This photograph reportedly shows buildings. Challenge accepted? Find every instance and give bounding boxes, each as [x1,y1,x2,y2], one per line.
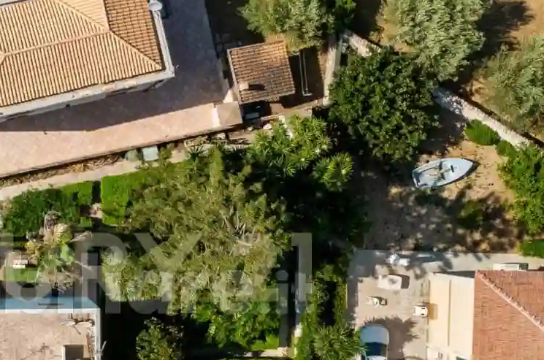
[0,0,177,129]
[220,38,295,104]
[0,297,102,360]
[424,269,544,360]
